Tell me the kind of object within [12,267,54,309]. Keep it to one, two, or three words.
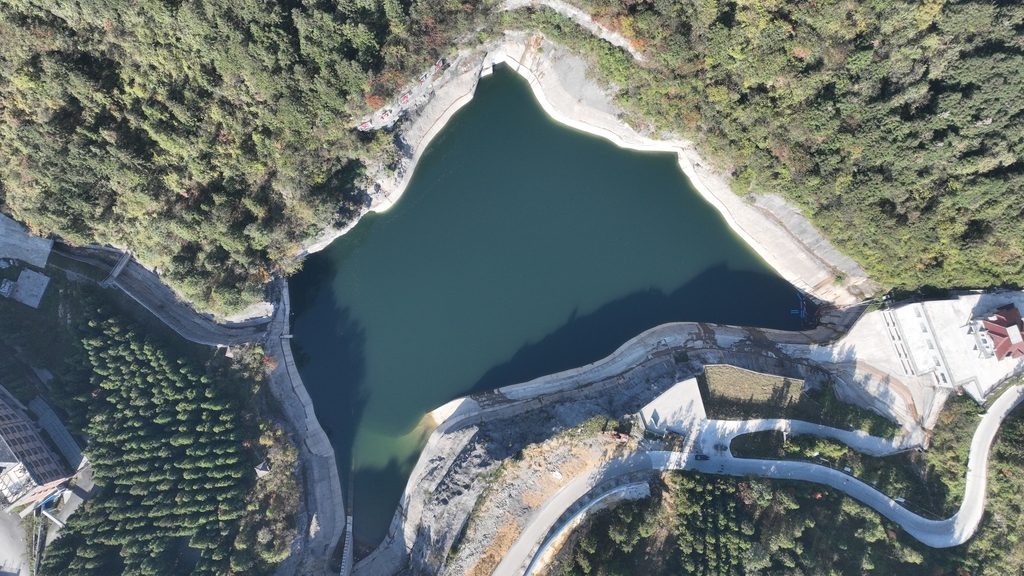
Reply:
house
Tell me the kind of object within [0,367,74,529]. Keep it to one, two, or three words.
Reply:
building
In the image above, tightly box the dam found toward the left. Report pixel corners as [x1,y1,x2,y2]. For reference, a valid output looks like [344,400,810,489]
[271,278,344,576]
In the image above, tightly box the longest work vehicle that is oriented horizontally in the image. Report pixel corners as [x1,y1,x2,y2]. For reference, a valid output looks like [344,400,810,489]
[600,431,630,445]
